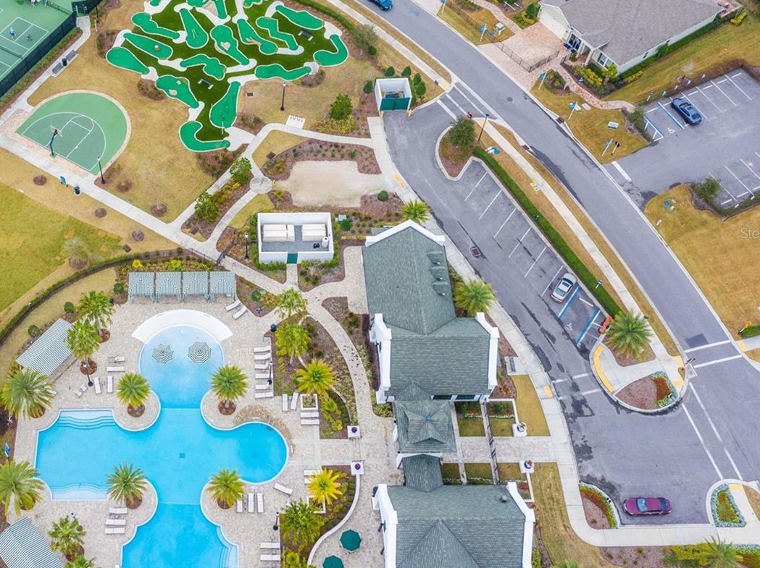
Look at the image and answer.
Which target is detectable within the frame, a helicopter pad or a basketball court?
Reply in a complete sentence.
Visible in the photo is a basketball court.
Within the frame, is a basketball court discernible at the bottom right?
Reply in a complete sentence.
No, there's no basketball court to be seen at the bottom right.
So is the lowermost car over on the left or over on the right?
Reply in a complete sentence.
The lowermost car is on the right side of the image.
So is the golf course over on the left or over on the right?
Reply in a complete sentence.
You can find the golf course on the left side of the picture.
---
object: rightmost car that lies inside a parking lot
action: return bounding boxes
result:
[672,96,707,126]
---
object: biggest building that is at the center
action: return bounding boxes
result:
[360,215,502,405]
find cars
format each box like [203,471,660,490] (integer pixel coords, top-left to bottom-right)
[550,270,581,304]
[373,0,395,10]
[672,96,707,126]
[624,496,677,518]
